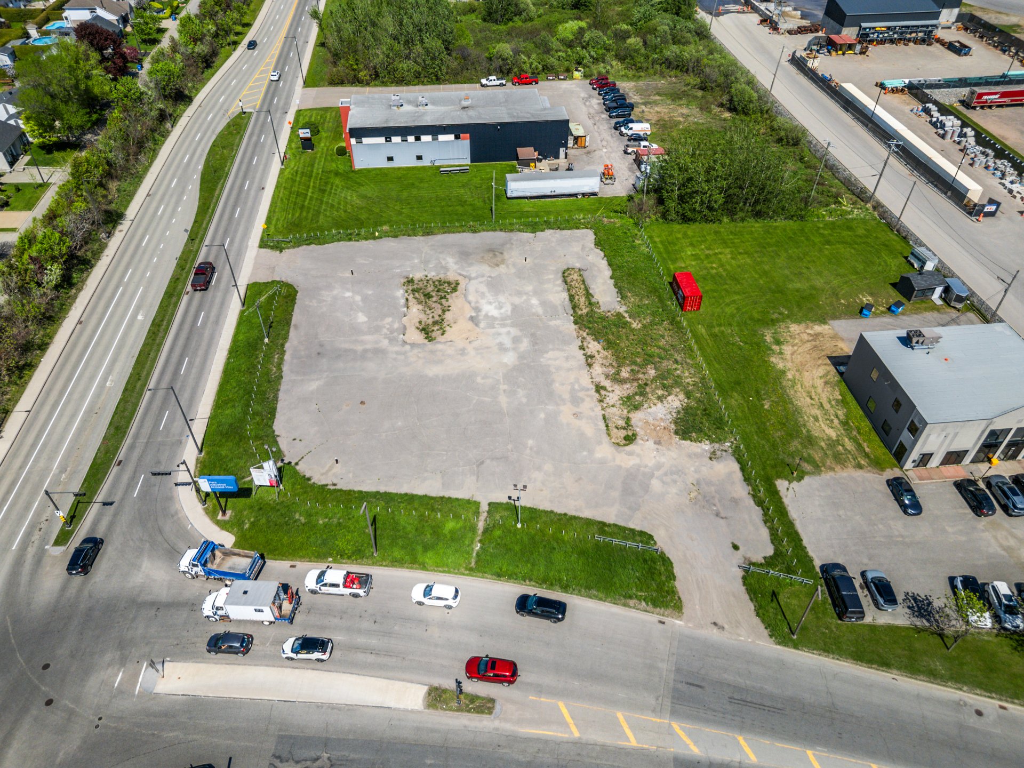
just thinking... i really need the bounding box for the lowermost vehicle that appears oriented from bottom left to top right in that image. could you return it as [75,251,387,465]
[65,535,107,578]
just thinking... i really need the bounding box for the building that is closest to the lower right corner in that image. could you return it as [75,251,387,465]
[841,322,1024,469]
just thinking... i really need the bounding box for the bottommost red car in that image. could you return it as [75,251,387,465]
[464,656,520,687]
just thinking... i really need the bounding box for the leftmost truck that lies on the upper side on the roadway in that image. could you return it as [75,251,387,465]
[191,263,214,289]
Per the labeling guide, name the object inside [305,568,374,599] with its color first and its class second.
white truck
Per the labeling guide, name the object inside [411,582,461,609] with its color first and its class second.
white car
